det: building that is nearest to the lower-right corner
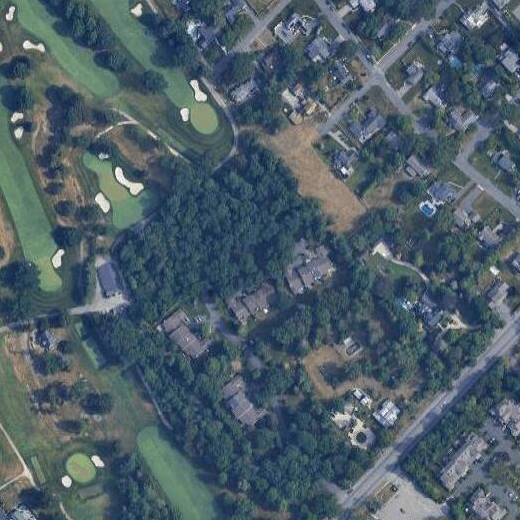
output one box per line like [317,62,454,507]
[474,490,510,520]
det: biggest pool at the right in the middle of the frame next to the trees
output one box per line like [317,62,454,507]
[421,200,436,217]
